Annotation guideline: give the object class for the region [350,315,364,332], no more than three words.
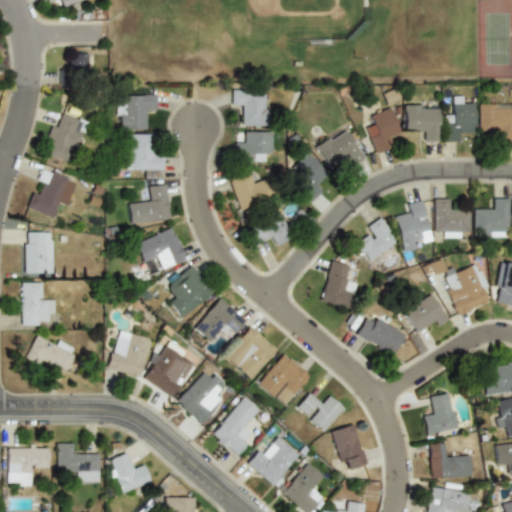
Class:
camper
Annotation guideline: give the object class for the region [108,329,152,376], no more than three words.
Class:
house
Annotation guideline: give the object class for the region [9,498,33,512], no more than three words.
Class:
swimming pool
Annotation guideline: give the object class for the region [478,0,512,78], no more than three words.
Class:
tennis court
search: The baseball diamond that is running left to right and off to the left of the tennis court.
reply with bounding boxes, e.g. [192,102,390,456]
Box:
[250,0,346,20]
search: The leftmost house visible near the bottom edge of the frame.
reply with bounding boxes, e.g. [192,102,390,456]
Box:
[7,448,52,488]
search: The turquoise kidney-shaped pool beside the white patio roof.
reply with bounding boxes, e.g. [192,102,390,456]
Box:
[112,310,130,332]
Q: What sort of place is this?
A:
residential area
